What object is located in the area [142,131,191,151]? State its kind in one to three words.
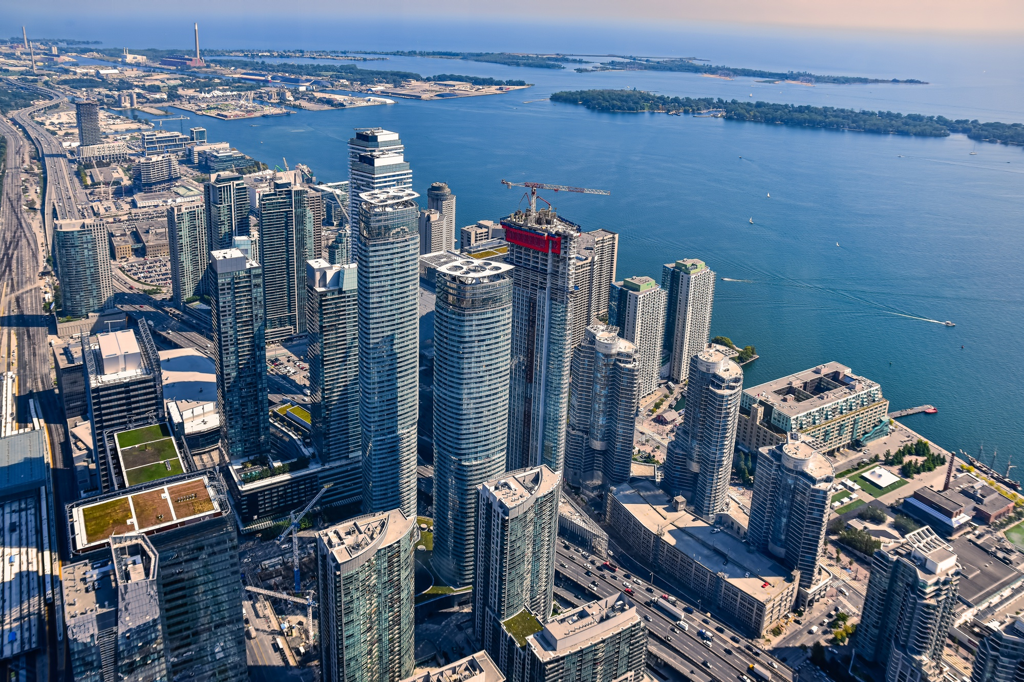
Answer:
building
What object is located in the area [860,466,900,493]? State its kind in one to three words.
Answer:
tent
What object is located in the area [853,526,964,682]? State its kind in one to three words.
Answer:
building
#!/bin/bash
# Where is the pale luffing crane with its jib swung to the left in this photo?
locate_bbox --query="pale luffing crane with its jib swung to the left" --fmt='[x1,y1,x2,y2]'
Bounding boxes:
[242,584,318,662]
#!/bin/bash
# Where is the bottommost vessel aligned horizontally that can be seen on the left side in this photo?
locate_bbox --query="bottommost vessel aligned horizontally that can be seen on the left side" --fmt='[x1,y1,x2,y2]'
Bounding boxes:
[290,166,322,179]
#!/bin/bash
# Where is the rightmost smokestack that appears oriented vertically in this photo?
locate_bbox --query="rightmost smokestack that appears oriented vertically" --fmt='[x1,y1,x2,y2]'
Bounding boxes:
[942,451,958,494]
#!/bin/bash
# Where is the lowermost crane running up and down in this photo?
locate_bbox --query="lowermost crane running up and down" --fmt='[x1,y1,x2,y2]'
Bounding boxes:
[276,483,329,587]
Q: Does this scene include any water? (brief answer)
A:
Yes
